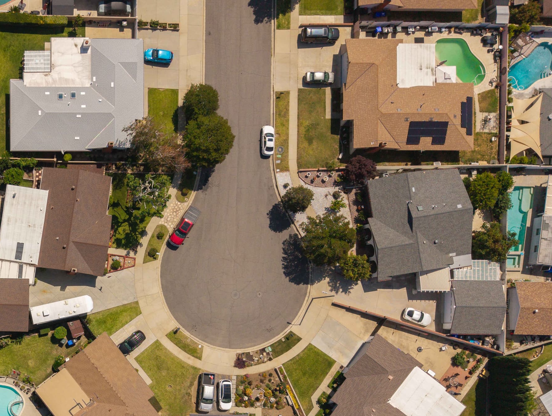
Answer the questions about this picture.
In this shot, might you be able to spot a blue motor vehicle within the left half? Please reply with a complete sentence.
Yes, I can see a blue motor vehicle within the left half.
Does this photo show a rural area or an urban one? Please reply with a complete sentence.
This place is urban.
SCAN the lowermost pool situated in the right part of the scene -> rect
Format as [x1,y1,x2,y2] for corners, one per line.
[506,253,524,269]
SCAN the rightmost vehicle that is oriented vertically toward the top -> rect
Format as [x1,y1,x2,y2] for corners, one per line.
[260,125,275,157]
